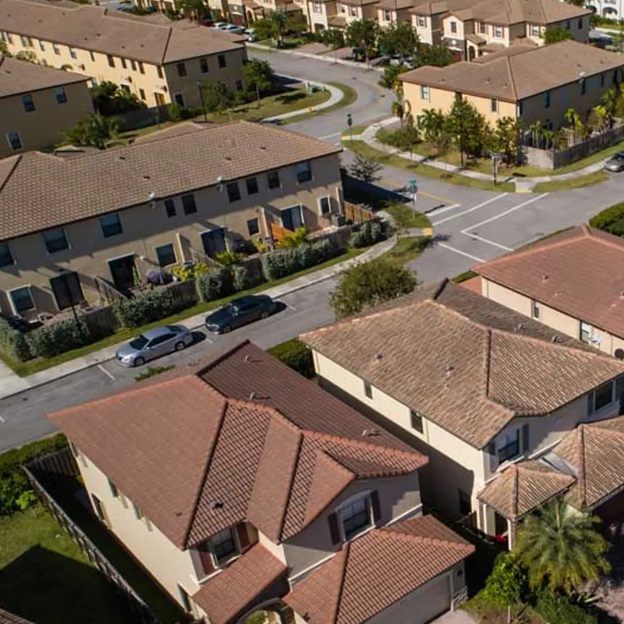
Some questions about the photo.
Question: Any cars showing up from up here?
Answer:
Yes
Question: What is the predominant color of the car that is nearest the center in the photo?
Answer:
black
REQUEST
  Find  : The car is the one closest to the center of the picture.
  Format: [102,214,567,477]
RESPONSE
[204,293,277,331]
